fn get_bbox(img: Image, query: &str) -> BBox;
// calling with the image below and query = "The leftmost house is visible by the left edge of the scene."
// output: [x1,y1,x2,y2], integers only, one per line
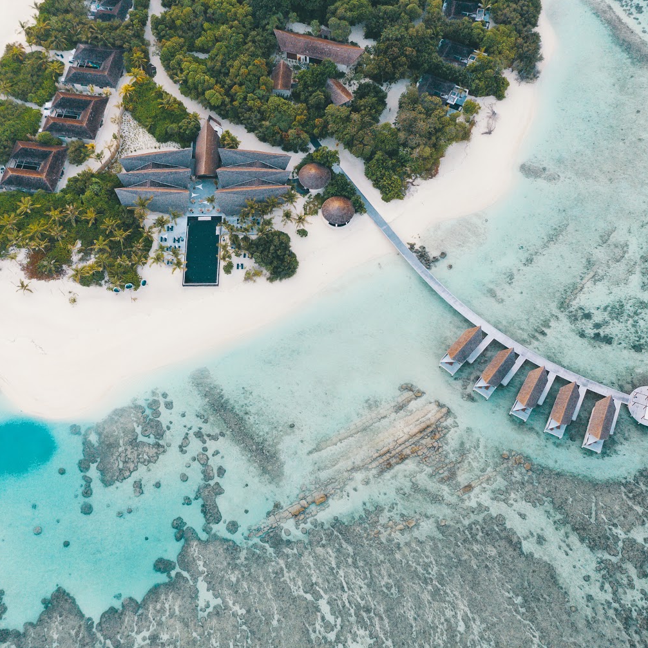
[0,140,68,194]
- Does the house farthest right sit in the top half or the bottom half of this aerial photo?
bottom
